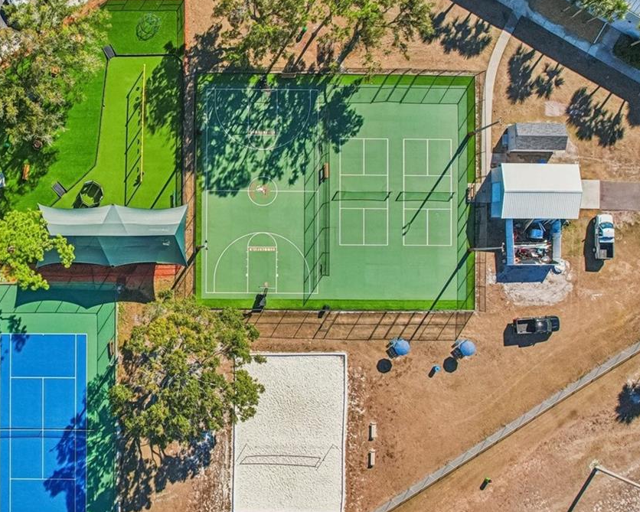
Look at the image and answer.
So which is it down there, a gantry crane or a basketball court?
basketball court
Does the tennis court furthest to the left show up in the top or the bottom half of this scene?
bottom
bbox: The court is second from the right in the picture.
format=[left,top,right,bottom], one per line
[337,139,392,245]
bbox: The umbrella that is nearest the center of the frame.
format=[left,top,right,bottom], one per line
[394,340,409,355]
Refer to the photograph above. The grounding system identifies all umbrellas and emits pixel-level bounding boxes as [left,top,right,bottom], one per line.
[394,340,409,355]
[459,341,475,356]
